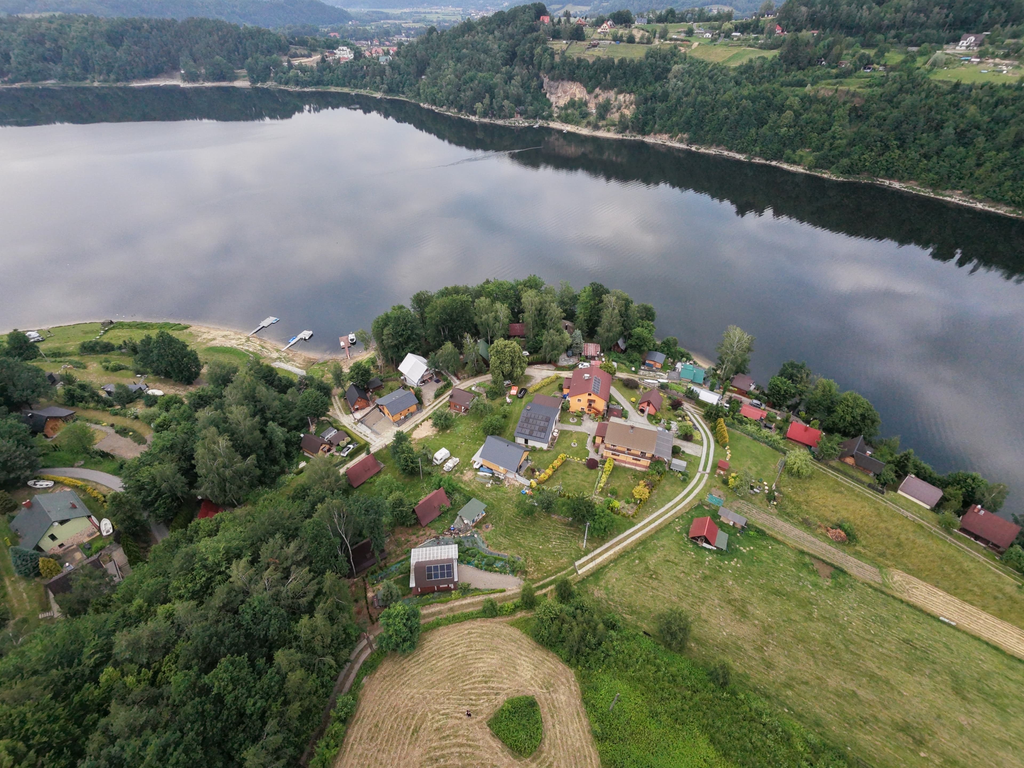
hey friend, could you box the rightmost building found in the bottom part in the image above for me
[958,501,1017,552]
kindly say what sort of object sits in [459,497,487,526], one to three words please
shed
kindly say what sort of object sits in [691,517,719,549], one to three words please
barn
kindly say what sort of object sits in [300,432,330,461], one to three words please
building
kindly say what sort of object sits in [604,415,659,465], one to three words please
house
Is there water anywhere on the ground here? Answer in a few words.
Yes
